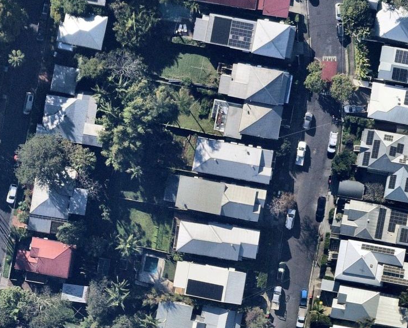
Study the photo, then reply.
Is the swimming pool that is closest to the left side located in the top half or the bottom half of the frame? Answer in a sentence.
The swimming pool that is closest to the left side is in the bottom half of the image.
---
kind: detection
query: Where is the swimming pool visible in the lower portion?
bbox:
[141,254,165,278]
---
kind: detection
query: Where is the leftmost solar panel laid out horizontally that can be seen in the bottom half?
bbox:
[186,279,223,300]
